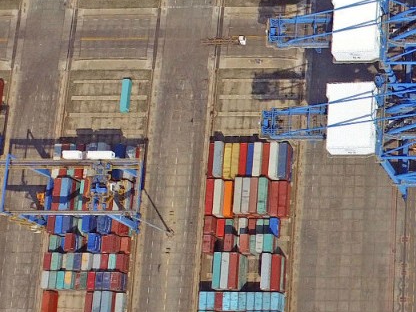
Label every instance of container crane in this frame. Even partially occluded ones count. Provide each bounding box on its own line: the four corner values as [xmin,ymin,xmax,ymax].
[260,73,416,202]
[266,0,416,108]
[0,143,146,233]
